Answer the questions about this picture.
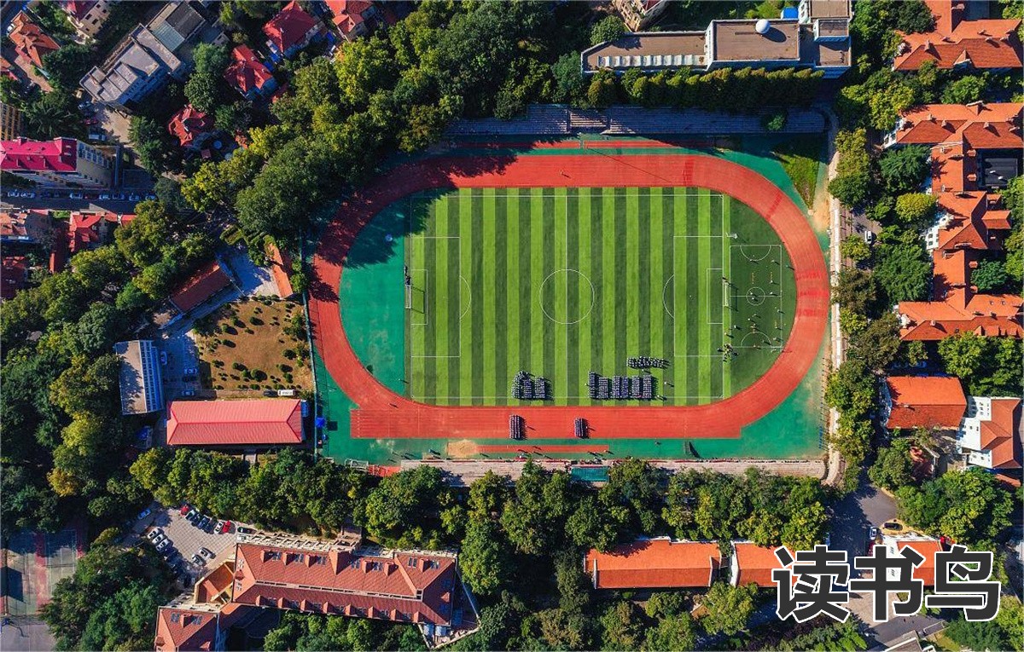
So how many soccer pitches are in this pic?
2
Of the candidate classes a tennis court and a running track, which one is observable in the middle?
running track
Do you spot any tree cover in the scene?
Yes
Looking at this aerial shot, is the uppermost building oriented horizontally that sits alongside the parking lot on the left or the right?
left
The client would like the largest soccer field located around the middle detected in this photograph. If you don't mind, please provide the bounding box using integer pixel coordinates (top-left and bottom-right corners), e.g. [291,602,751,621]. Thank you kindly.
[404,188,795,406]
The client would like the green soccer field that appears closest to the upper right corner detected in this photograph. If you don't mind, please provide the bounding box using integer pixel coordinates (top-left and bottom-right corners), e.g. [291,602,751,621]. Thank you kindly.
[729,245,781,347]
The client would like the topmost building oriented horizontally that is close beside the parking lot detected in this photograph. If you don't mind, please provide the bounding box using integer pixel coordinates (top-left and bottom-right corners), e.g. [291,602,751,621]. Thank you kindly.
[167,399,304,447]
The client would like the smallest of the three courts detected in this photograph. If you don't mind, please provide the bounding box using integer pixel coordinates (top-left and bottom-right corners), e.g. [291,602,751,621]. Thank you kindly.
[20,554,38,610]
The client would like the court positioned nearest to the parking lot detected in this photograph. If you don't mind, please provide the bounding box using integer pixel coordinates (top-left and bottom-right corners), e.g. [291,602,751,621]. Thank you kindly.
[46,529,77,596]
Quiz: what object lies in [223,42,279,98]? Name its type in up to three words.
house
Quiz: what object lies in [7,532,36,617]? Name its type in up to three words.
tennis court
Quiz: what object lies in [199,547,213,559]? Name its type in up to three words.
vehicle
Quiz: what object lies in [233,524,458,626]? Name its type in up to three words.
building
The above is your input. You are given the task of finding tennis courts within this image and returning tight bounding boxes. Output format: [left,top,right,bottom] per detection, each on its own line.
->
[46,529,77,596]
[20,554,38,610]
[7,532,36,617]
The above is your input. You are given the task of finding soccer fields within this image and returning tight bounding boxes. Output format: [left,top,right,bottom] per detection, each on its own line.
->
[729,245,781,347]
[404,188,795,406]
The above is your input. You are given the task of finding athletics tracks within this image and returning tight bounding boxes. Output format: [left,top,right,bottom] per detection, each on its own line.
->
[307,154,828,440]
